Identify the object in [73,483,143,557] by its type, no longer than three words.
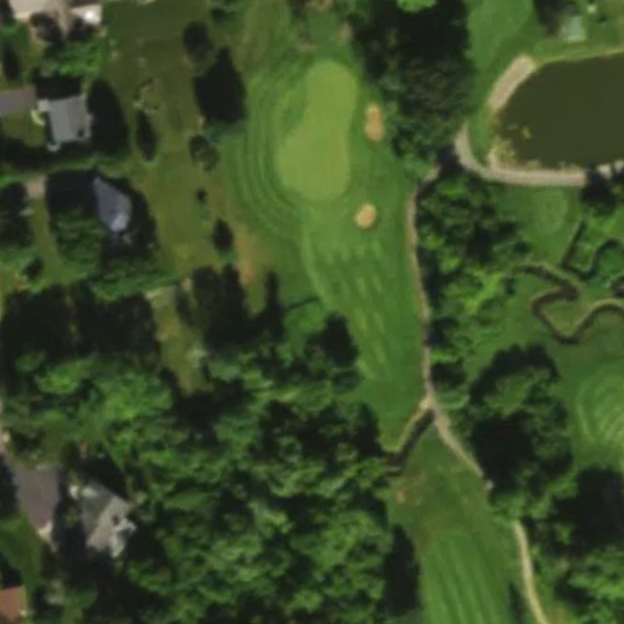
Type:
house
